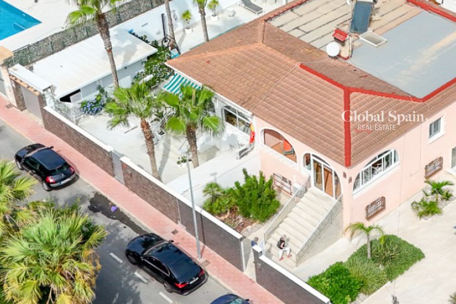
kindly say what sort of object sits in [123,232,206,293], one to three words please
car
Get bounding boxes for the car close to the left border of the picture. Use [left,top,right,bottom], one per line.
[13,144,77,190]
